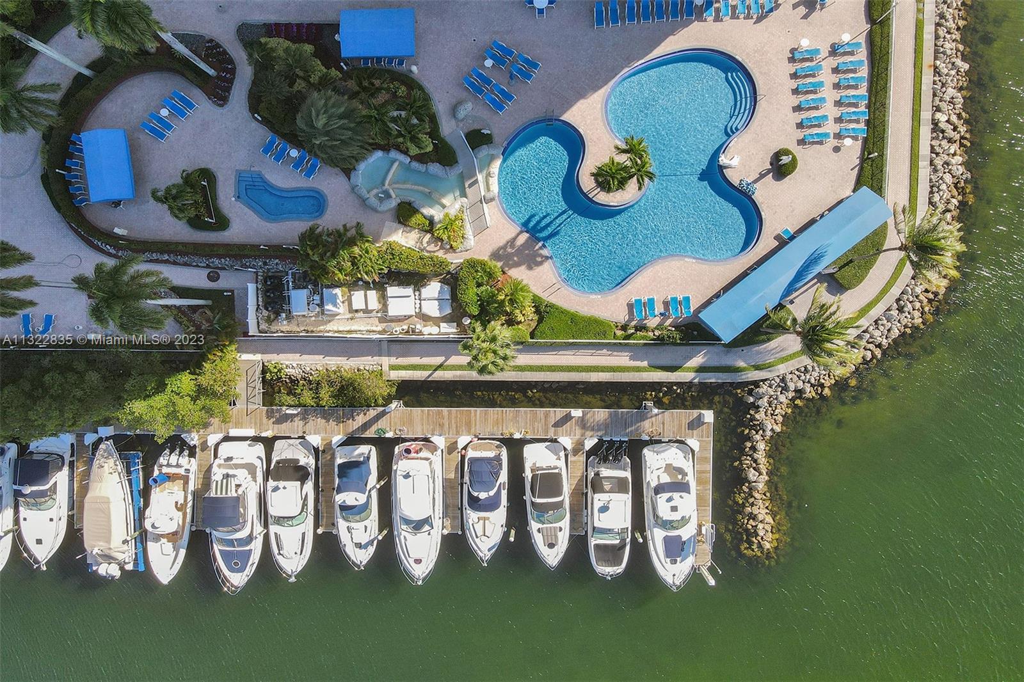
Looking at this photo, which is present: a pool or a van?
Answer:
pool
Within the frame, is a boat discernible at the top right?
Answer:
No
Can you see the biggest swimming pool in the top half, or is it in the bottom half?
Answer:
top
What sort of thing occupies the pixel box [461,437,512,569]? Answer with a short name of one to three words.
boat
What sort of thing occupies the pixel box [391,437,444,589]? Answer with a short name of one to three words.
boat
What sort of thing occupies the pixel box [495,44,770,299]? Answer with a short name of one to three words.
swimming pool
